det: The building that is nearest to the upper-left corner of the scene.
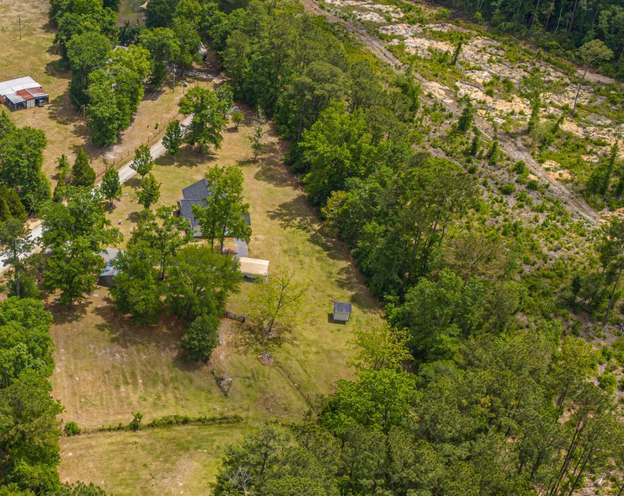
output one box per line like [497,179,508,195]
[0,77,56,111]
